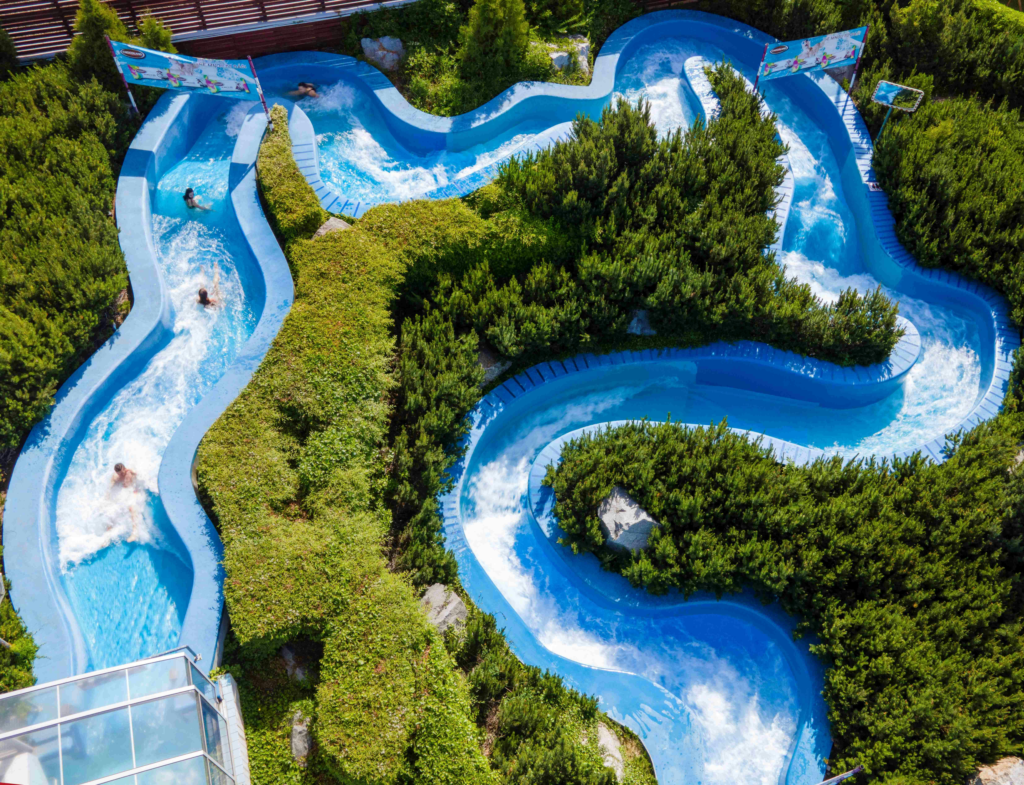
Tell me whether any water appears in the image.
Yes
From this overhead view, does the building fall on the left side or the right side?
left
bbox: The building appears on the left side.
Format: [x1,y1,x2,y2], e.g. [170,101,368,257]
[0,651,237,785]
